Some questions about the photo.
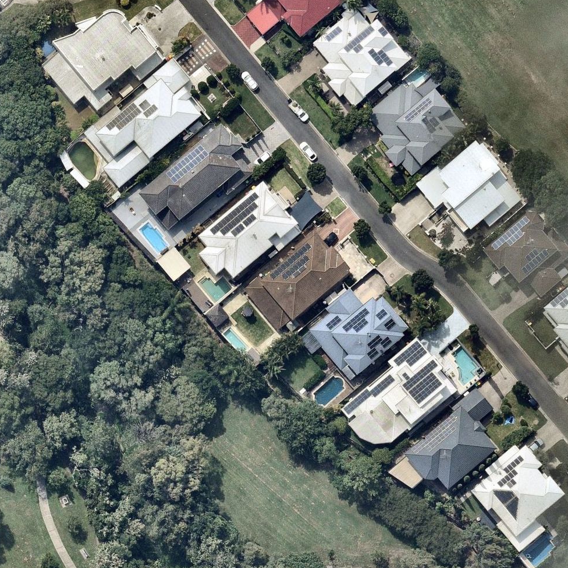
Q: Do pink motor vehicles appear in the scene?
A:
No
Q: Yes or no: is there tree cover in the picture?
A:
Yes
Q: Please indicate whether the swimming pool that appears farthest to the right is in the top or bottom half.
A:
bottom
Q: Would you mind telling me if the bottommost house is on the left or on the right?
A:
right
